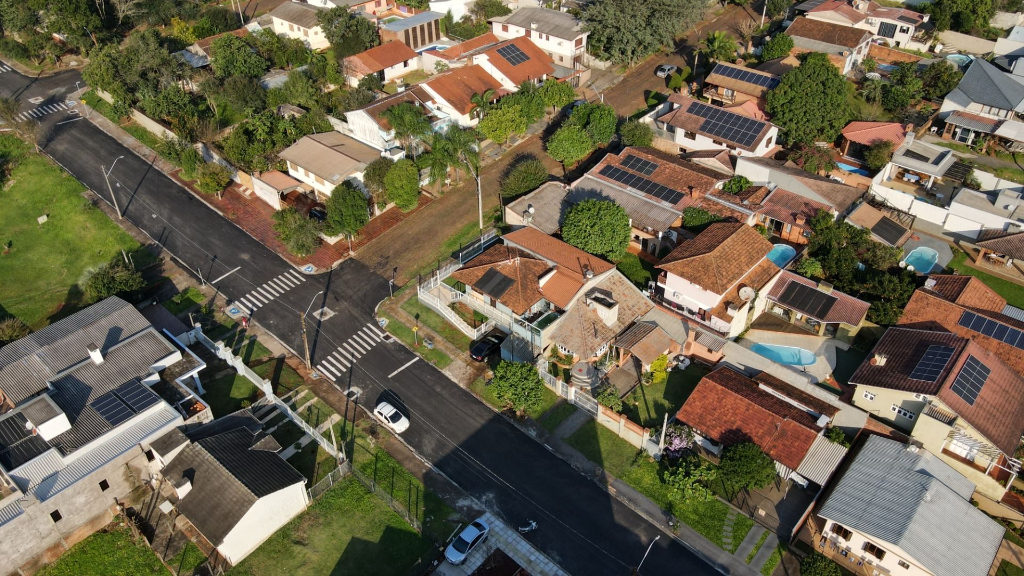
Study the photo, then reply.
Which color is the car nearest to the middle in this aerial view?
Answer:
black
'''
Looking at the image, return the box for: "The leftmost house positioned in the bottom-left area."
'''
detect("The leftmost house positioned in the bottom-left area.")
[0,296,216,576]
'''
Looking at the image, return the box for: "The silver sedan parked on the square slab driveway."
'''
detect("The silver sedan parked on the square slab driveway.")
[440,513,494,570]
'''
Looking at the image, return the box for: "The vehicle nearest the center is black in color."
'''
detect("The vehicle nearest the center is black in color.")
[466,333,506,364]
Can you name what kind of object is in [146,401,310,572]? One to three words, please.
house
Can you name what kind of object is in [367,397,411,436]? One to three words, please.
car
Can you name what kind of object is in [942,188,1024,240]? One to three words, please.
house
